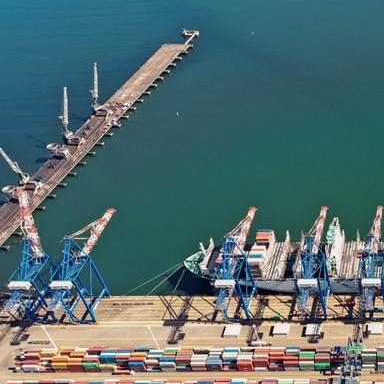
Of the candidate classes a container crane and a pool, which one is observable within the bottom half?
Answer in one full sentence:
What appears within the bottom half is a container crane.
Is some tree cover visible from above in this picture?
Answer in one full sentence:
No, there is no tree cover in the image.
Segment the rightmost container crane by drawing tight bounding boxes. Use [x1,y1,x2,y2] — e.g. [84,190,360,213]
[356,203,384,322]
